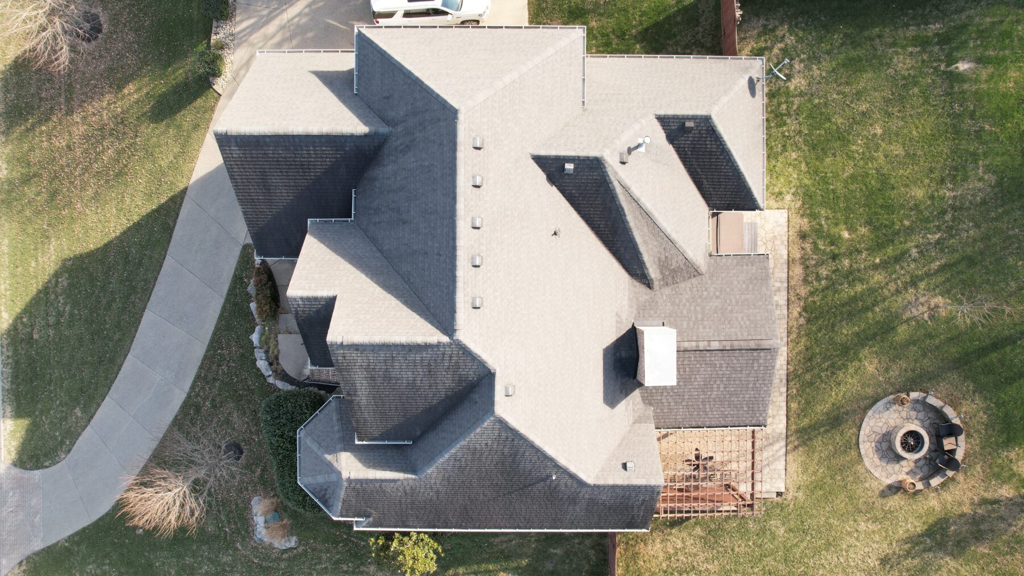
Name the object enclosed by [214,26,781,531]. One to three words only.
house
